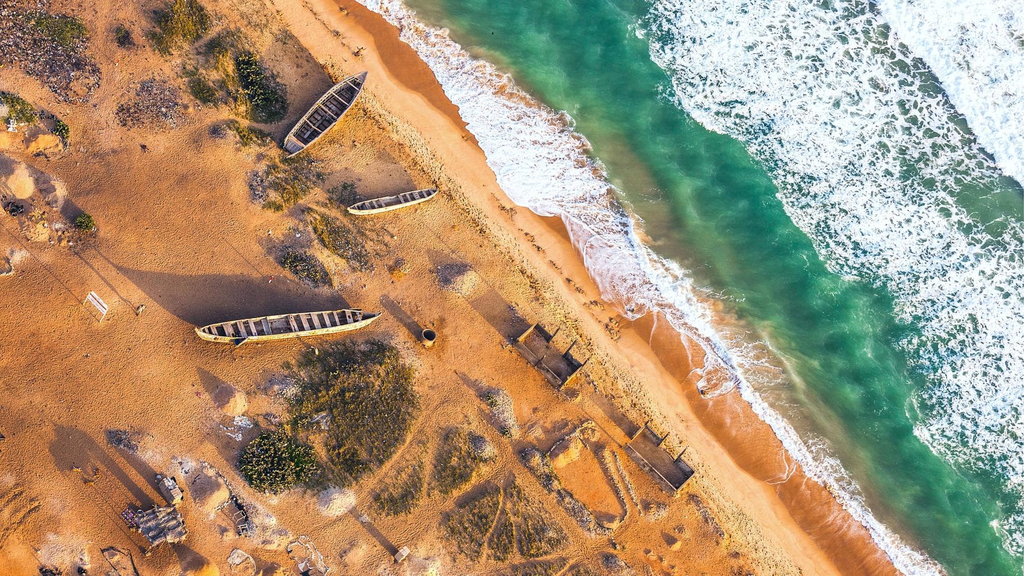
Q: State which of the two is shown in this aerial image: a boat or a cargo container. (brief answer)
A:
boat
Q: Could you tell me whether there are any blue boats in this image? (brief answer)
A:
No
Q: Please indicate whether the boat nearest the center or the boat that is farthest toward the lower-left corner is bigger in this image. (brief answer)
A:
the boat that is farthest toward the lower-left corner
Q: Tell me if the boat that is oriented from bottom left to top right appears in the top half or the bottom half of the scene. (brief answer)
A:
top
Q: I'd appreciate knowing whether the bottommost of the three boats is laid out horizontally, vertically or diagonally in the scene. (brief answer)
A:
horizontally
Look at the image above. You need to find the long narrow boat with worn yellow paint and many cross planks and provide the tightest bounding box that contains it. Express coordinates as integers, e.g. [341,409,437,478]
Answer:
[193,307,383,348]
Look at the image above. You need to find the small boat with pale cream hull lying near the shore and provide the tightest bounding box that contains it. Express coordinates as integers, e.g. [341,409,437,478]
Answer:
[346,188,440,213]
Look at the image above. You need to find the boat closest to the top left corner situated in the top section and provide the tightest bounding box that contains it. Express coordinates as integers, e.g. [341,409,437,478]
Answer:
[280,70,369,162]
